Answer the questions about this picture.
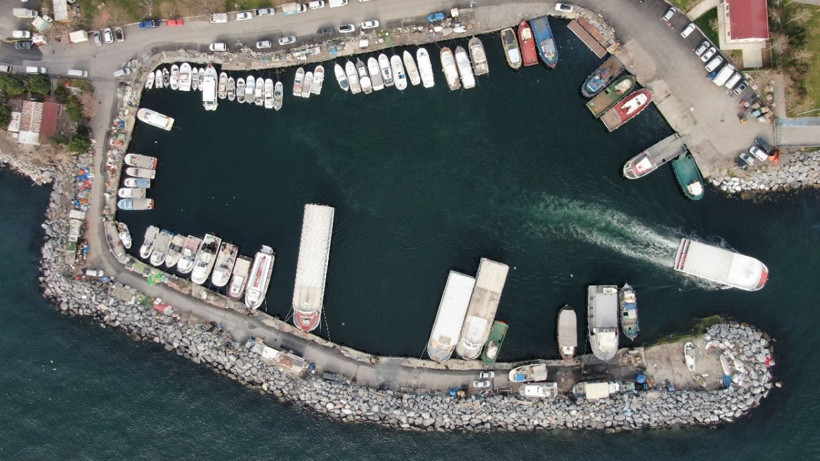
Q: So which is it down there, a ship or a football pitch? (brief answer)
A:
ship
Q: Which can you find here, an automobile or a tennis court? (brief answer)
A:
automobile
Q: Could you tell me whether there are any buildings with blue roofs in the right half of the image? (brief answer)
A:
No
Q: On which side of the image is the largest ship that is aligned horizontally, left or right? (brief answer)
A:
right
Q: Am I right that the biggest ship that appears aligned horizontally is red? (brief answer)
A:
No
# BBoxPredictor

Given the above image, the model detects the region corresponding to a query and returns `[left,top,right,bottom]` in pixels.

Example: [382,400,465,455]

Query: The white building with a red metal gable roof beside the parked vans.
[718,0,769,50]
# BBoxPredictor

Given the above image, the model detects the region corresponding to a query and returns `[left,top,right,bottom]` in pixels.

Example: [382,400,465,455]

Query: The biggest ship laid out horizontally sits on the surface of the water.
[672,239,770,287]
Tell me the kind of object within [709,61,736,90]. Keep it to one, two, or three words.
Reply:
truck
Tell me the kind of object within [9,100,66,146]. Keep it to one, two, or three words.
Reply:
house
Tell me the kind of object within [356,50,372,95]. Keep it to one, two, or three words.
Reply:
boat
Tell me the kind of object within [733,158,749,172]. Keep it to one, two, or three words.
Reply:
car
